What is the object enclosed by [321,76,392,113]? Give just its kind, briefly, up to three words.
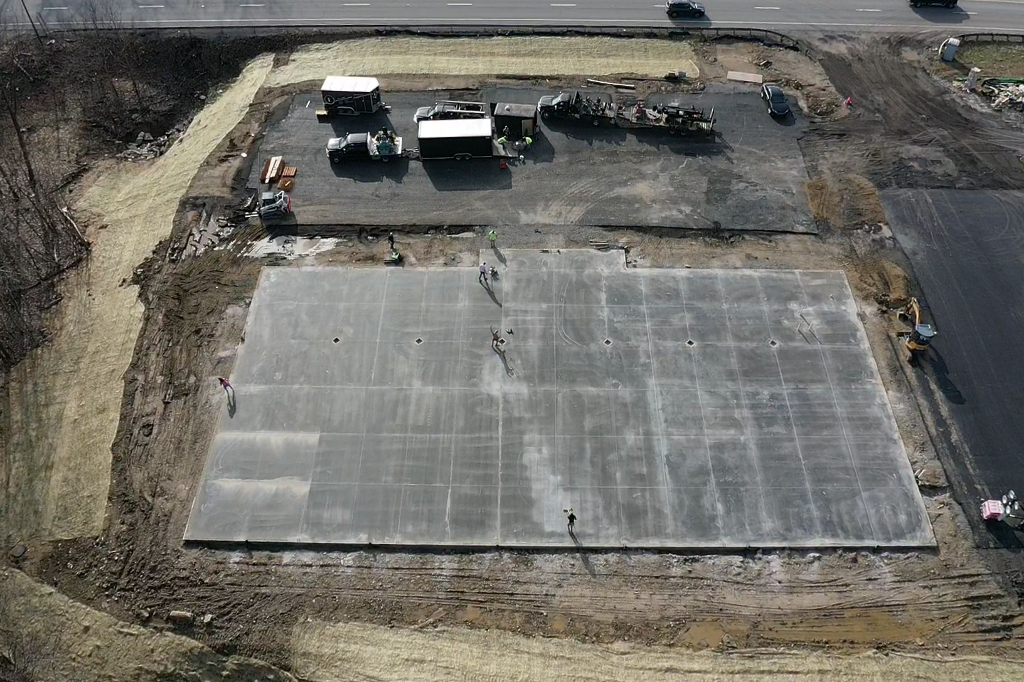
trailer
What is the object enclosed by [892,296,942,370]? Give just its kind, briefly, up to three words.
work vehicle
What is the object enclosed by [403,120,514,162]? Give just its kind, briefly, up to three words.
trailer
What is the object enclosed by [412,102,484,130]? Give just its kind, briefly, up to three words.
truck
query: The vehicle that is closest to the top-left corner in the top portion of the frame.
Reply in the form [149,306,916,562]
[246,192,288,222]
